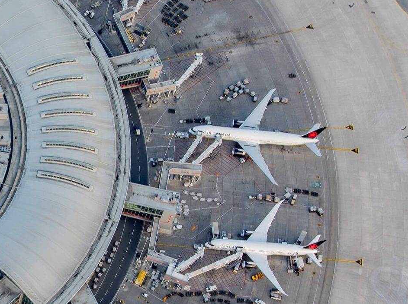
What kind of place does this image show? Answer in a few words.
airport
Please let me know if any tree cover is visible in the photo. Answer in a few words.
No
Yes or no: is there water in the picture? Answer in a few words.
No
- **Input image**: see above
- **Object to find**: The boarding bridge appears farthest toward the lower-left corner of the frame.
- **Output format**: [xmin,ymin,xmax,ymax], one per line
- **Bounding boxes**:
[173,246,205,273]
